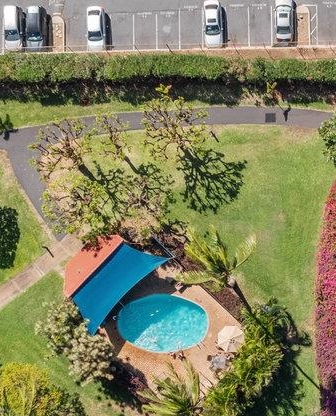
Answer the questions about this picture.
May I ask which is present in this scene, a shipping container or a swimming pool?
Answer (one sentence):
This aerial view contains a swimming pool.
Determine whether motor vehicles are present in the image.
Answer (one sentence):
Yes, there's a motor vehicle down there.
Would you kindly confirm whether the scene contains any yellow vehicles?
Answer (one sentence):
No, there appears to be no yellow vehicle in this shot.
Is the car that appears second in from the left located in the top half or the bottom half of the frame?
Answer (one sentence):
You can find the car that appears second in from the left in the top half.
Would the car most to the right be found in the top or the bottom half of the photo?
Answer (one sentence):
The car most to the right is in the top half of the image.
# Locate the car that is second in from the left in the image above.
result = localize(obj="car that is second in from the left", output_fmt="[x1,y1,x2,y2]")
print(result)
[23,5,49,56]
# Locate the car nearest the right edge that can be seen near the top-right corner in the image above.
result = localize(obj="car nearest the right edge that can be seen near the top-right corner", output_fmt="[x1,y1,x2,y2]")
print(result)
[273,0,296,44]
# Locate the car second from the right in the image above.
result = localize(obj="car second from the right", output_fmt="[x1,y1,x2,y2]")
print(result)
[202,0,225,50]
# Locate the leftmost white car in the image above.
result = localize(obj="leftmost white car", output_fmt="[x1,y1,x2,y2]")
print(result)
[1,3,27,57]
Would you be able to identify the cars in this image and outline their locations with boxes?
[273,0,296,44]
[1,3,27,57]
[85,4,108,55]
[202,0,225,50]
[23,5,49,56]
